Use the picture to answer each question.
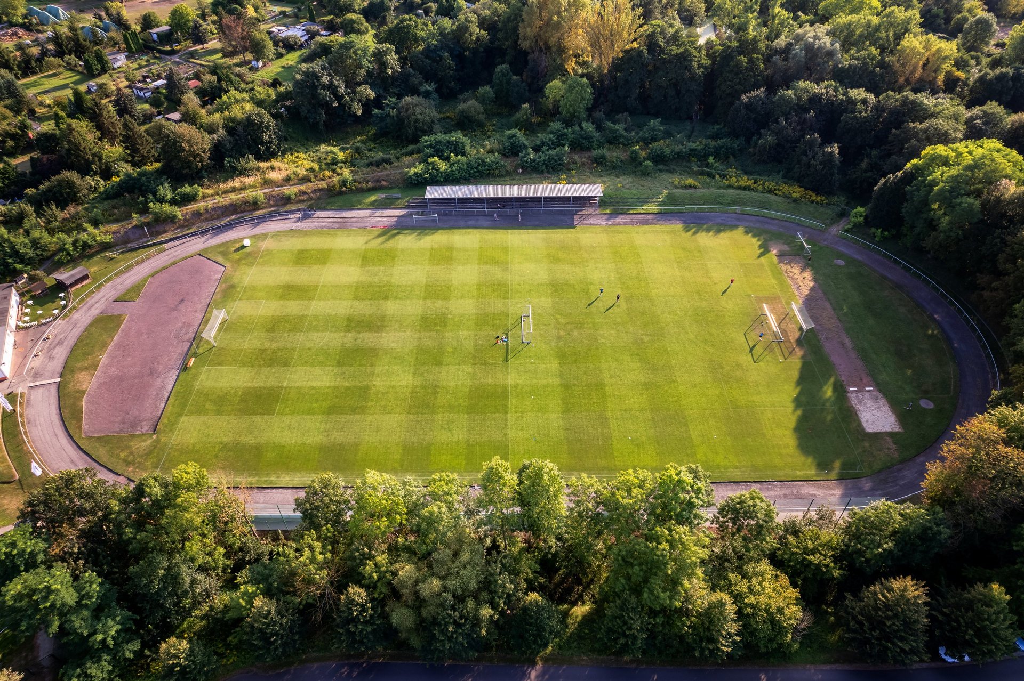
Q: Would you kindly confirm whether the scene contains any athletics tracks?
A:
Yes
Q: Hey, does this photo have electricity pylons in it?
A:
No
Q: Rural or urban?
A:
rural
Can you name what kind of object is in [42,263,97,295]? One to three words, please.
shed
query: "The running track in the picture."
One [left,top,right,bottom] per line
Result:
[29,212,989,515]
